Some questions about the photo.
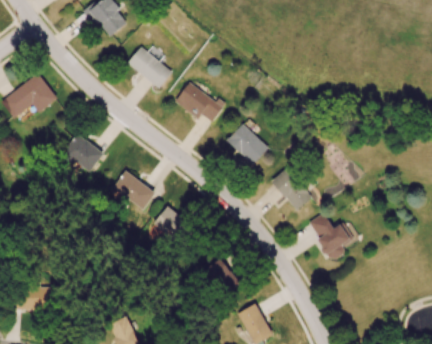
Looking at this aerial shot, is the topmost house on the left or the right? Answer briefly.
left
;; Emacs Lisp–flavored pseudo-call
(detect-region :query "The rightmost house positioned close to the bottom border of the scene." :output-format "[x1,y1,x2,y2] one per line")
[238,304,273,344]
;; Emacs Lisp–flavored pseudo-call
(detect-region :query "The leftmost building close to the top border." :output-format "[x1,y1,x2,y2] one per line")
[86,0,126,34]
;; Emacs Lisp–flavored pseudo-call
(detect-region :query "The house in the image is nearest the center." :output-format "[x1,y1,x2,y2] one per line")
[228,124,268,164]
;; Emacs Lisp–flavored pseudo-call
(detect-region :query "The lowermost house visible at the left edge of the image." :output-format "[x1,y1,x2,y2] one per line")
[18,286,50,316]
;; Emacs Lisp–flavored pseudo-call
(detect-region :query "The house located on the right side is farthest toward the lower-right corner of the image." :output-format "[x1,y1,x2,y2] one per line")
[308,215,352,258]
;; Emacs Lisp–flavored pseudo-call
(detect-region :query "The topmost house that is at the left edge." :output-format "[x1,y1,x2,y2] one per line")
[2,76,56,117]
